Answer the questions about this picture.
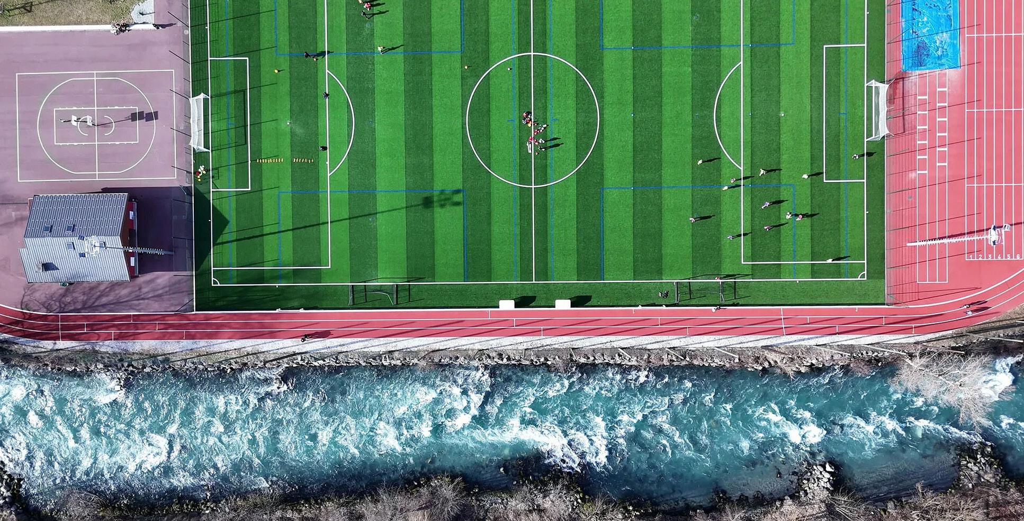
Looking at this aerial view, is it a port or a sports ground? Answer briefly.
sports ground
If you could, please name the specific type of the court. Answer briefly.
basketball court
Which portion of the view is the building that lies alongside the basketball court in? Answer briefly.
left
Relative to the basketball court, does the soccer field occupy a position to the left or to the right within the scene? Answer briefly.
to its right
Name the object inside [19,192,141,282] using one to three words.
building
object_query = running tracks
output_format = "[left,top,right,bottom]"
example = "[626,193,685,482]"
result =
[0,0,1024,341]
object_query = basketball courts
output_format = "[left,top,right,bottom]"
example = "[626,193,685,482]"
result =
[16,70,176,182]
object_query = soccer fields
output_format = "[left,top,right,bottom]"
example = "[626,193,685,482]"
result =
[189,0,886,310]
